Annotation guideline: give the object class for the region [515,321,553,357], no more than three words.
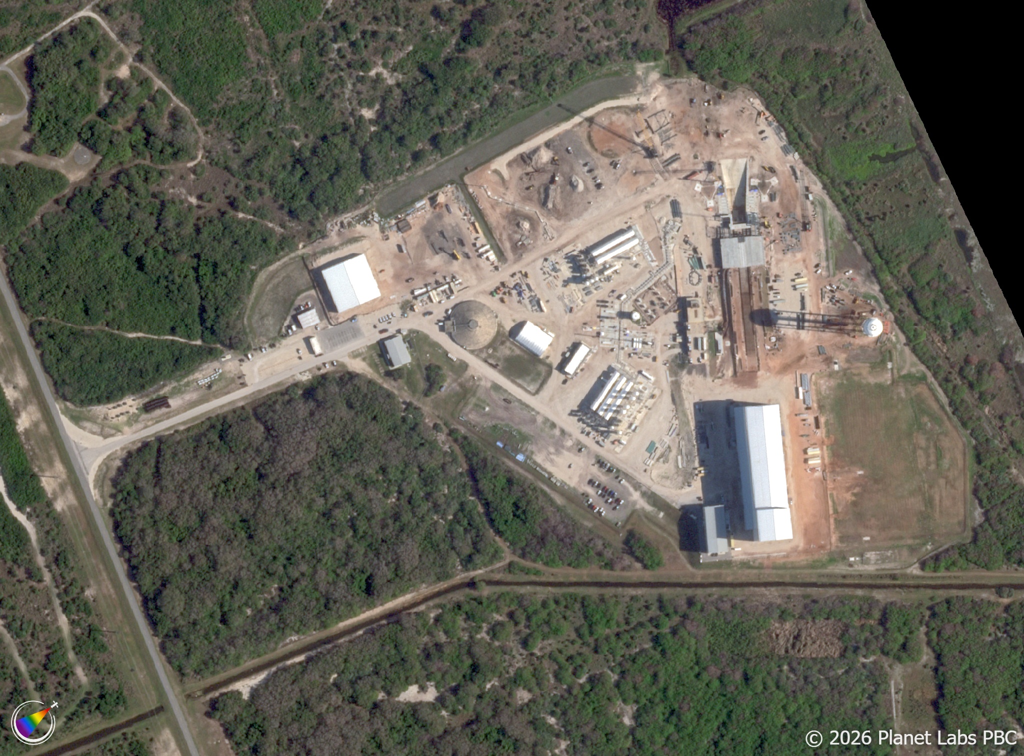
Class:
tent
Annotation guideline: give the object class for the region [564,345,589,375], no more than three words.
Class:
building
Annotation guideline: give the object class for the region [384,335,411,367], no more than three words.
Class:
building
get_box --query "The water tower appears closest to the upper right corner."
[844,315,884,340]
